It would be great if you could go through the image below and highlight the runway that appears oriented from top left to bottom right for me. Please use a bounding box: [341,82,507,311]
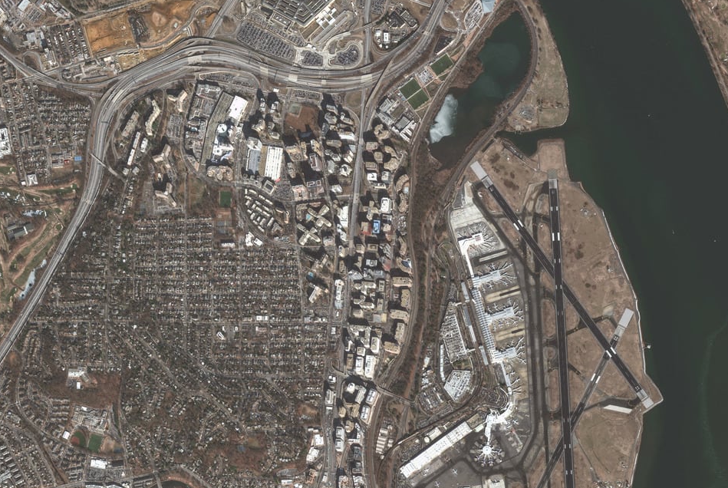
[474,163,652,407]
